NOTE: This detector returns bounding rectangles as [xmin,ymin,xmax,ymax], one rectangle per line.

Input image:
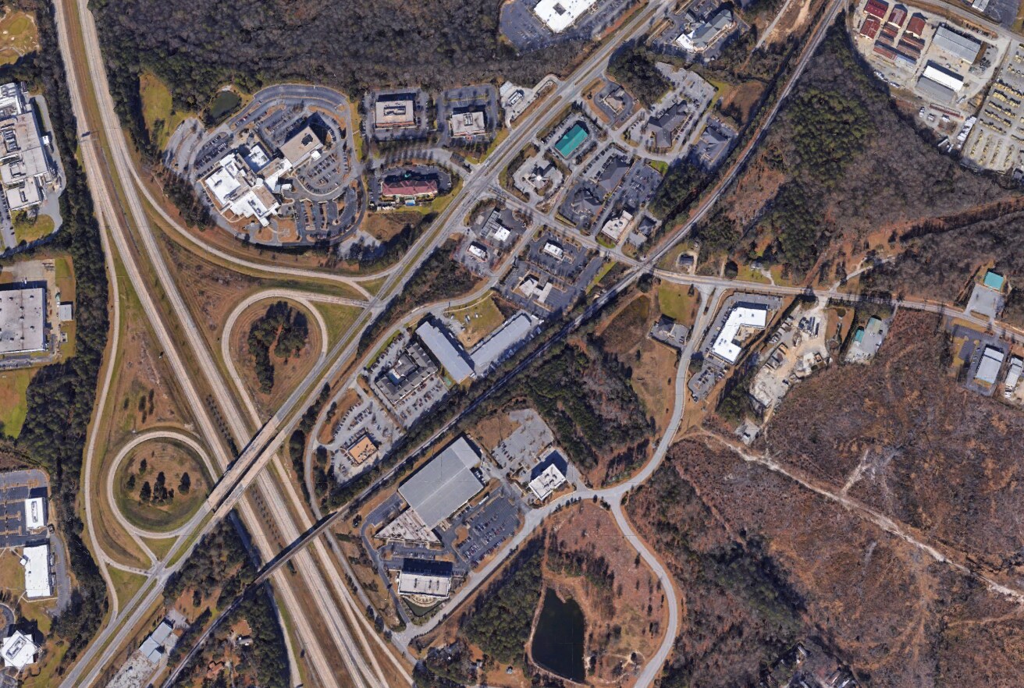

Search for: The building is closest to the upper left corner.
[0,81,53,211]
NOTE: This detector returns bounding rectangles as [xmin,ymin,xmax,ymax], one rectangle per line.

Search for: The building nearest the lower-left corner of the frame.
[0,628,42,669]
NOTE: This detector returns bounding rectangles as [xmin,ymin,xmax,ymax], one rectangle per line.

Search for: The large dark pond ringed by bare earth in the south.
[530,587,585,682]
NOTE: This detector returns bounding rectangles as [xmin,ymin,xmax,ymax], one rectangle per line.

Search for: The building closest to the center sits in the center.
[470,315,531,365]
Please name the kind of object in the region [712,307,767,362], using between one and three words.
building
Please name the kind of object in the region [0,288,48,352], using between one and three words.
building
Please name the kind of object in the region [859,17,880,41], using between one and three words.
shed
